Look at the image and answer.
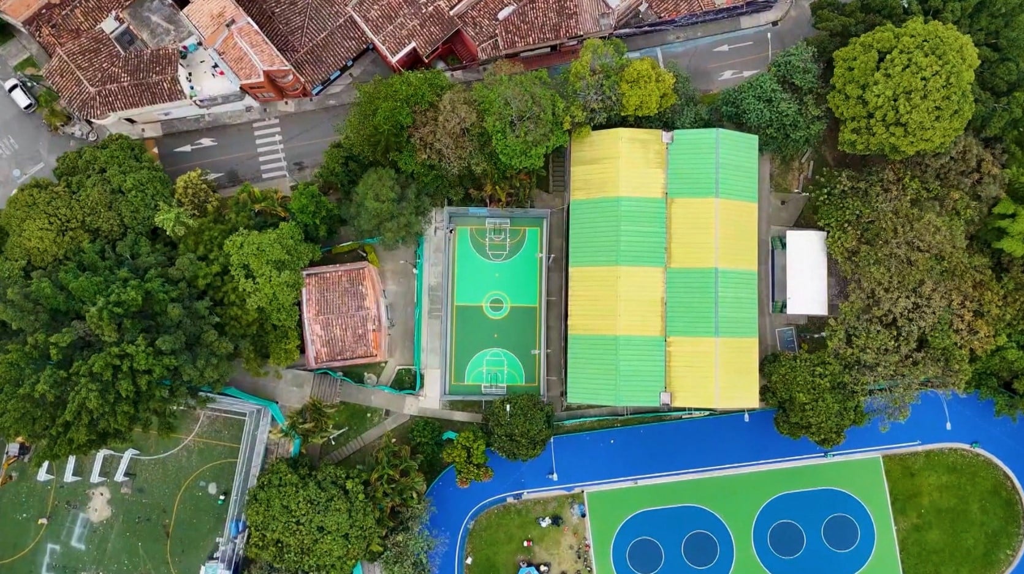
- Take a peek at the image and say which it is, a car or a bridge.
car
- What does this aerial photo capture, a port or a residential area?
residential area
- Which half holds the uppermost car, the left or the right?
left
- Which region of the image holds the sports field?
bottom left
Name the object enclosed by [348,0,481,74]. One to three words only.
house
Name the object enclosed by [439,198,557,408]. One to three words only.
sports court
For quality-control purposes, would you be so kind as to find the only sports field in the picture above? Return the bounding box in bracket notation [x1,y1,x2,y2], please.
[0,402,247,574]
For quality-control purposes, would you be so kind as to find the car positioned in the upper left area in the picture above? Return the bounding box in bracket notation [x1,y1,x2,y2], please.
[1,77,34,113]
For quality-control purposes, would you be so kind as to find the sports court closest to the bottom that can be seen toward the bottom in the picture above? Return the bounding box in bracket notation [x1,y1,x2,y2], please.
[586,455,903,574]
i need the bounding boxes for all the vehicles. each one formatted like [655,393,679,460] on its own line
[0,443,31,483]
[1,77,34,113]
